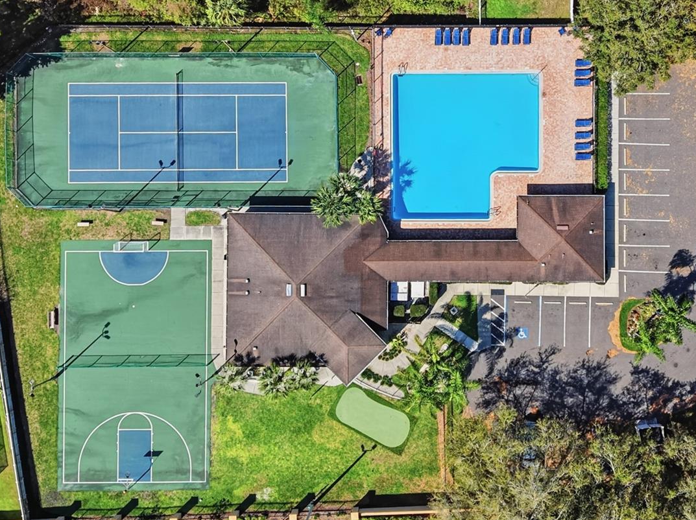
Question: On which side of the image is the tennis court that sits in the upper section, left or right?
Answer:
left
